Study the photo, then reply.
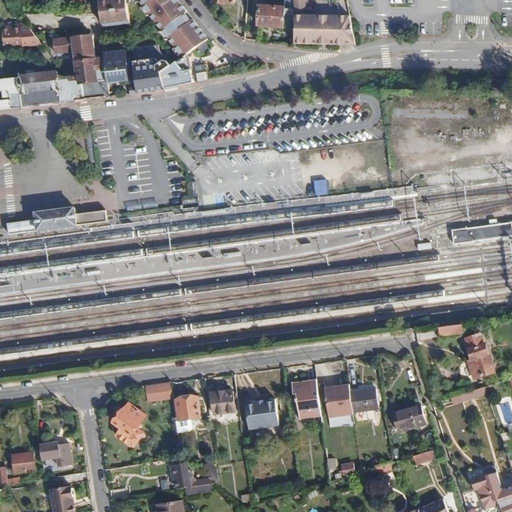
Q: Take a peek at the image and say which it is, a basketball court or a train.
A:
train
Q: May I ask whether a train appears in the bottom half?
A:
Yes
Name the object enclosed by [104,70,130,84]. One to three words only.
building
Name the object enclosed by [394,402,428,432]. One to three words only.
house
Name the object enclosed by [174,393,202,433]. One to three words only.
house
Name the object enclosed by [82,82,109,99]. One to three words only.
building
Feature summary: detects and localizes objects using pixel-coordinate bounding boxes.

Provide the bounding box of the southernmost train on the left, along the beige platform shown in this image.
[0,323,188,356]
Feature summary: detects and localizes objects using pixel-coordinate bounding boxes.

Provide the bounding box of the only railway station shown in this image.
[0,184,483,363]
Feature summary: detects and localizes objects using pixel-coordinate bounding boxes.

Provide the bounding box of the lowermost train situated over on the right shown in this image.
[191,290,446,329]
